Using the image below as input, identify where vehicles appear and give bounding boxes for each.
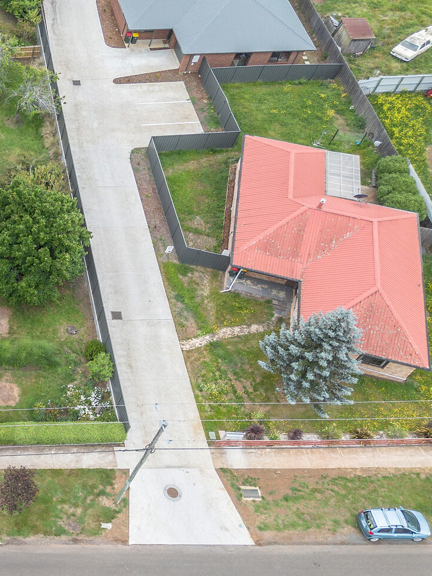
[352,502,432,543]
[387,30,432,62]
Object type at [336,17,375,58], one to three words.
shed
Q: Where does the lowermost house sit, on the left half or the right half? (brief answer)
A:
right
